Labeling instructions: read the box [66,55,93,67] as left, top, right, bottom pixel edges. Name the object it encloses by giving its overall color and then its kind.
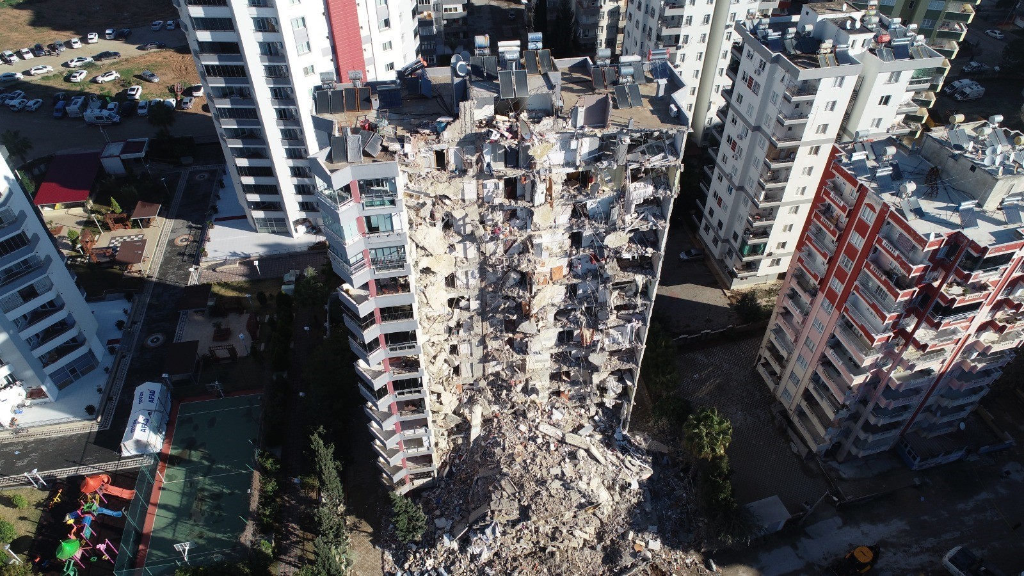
white vehicle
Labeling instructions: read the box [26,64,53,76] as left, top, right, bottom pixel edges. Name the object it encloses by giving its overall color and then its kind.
white vehicle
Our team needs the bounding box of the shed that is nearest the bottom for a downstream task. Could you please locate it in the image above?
[742,496,792,544]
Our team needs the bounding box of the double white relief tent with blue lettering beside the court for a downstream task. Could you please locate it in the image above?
[110,372,179,460]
